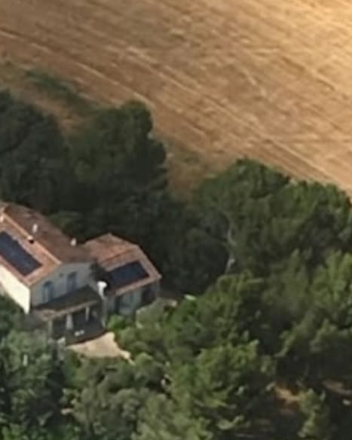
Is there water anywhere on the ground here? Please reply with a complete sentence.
No, water can't be seen anywhere here.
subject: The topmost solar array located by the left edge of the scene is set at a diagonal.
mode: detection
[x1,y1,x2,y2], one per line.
[0,229,41,274]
